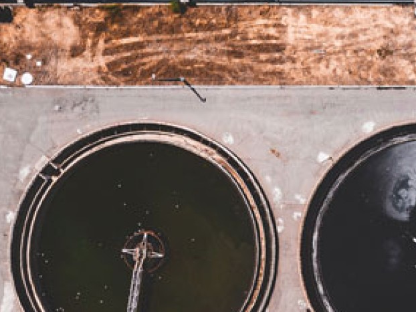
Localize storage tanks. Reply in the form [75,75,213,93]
[10,122,275,312]
[299,122,416,312]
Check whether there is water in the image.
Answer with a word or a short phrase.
Yes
